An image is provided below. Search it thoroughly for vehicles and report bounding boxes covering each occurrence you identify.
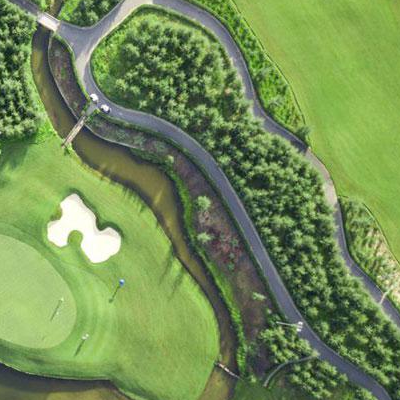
[98,105,108,114]
[88,95,97,105]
